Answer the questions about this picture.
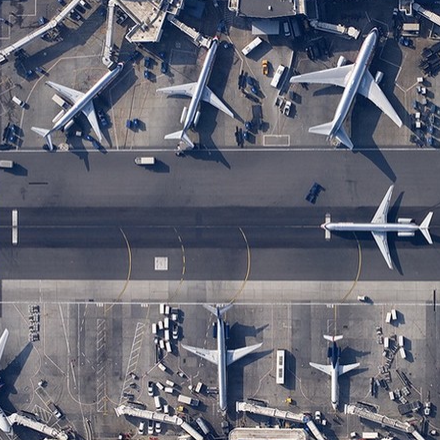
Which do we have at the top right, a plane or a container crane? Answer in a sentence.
Looking at the top right, you will find a plane.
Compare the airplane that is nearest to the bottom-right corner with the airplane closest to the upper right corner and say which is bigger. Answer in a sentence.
The airplane closest to the upper right corner is larger than the airplane that is nearest to the bottom-right corner.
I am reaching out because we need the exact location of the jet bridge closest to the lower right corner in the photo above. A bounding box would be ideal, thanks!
[343,403,427,440]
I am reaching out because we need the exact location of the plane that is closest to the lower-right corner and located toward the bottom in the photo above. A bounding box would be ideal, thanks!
[308,334,361,408]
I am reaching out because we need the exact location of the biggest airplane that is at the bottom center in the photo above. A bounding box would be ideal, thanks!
[178,300,261,413]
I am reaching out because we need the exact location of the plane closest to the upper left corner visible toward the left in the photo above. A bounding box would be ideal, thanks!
[28,64,123,151]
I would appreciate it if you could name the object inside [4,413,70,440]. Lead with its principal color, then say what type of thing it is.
white jet bridge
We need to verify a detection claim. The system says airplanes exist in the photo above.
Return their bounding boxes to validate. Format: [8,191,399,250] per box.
[152,40,231,149]
[291,27,402,149]
[178,300,261,413]
[308,334,361,408]
[28,64,123,151]
[321,186,434,268]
